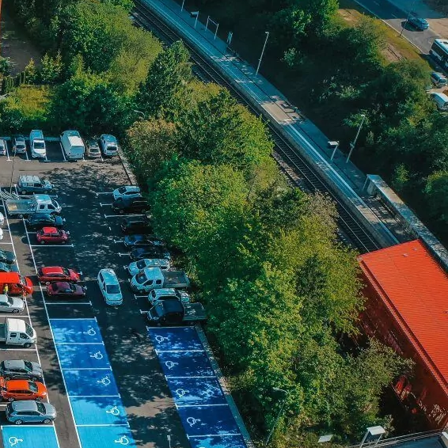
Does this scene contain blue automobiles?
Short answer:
Yes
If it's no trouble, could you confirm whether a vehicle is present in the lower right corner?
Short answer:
No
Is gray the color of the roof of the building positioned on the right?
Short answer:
No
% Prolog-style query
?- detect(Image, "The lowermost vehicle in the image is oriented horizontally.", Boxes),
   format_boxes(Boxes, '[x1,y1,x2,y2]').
[3,398,57,424]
